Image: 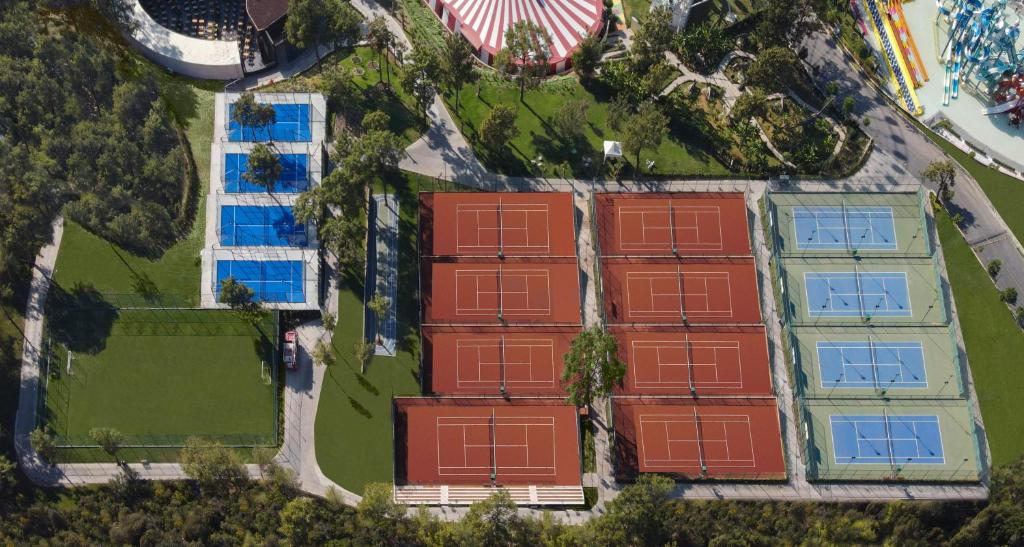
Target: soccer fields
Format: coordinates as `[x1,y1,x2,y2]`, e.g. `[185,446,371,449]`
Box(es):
[48,310,276,446]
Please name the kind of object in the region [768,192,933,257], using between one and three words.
tennis court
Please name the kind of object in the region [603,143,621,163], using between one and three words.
gazebo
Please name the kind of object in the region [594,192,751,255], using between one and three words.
tennis court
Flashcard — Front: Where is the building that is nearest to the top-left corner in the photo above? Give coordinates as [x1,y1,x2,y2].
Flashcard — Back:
[124,0,244,77]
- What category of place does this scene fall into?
sports ground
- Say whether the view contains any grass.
Yes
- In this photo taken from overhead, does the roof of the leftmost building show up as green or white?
white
